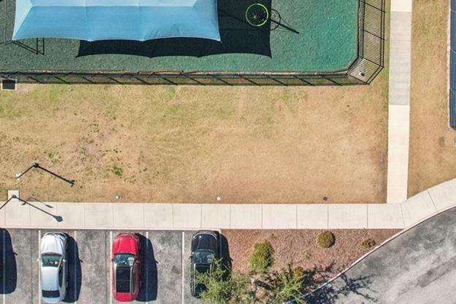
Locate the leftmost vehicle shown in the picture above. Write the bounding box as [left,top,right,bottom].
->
[34,230,67,299]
